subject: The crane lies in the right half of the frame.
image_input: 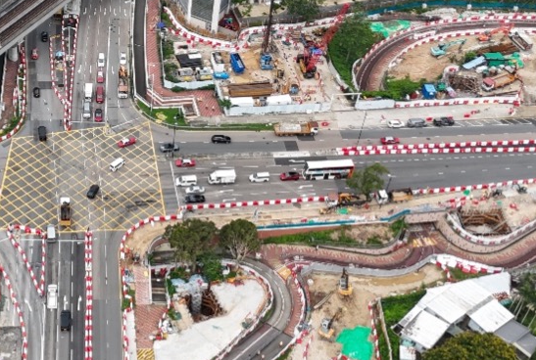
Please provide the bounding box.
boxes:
[299,18,345,72]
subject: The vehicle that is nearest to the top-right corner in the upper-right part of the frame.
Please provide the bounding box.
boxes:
[511,26,534,45]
